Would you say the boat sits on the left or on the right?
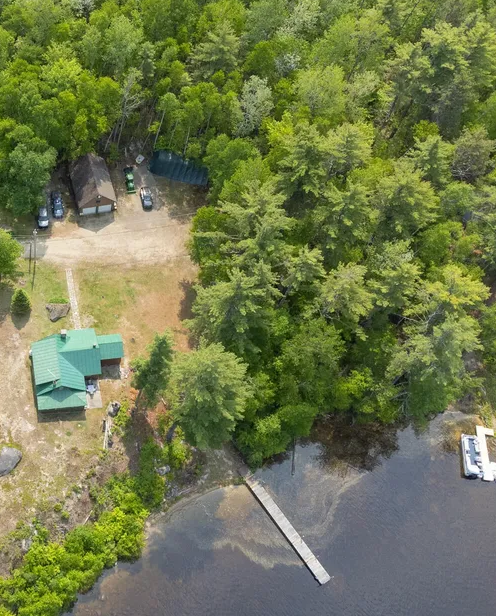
right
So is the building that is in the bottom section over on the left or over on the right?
left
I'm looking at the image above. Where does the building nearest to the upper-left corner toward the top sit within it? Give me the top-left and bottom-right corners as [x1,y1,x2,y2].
[67,155,117,217]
